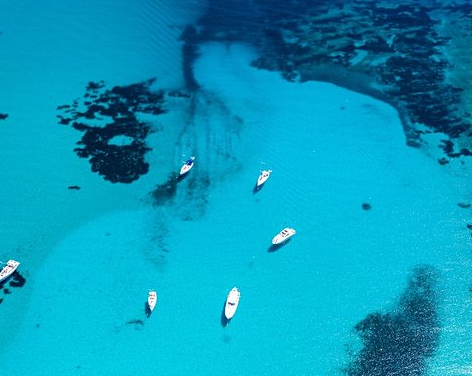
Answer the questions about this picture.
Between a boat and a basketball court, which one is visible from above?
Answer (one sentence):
The one in the frame is a boat.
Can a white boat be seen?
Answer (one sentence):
Yes, a white boat is visible in the scene.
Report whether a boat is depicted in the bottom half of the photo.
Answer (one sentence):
Yes, you'll find a boat in the bottom half of the photo.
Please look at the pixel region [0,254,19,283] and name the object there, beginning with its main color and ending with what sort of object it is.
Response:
white boat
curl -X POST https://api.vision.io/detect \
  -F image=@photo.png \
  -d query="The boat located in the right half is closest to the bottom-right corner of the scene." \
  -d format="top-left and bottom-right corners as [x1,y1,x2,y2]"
[274,229,299,245]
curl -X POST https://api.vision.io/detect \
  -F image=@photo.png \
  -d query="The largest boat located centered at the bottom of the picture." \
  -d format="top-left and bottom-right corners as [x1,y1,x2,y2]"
[225,287,241,320]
